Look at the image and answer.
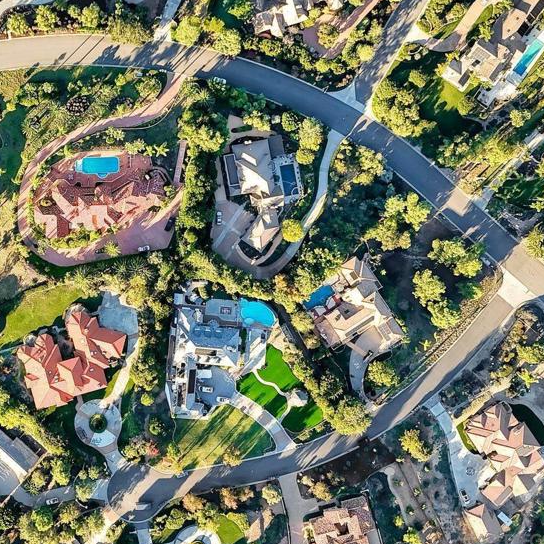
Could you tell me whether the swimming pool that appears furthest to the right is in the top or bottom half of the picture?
top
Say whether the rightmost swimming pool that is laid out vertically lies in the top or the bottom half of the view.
top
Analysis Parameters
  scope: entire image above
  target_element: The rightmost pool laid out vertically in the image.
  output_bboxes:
[279,162,300,197]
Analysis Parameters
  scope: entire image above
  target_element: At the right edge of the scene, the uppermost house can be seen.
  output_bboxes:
[441,0,543,90]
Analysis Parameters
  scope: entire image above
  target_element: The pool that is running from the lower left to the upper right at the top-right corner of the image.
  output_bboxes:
[512,37,544,78]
